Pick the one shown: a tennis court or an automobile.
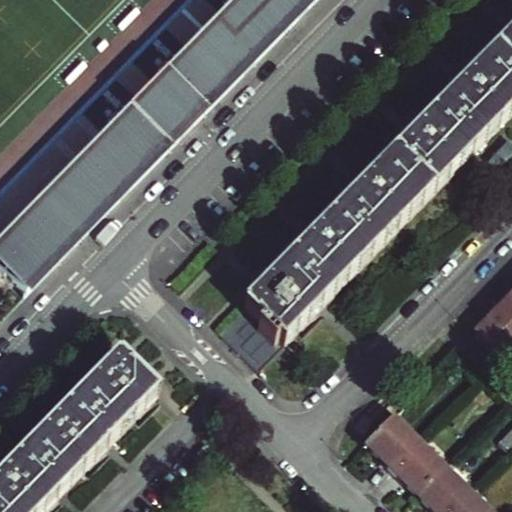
automobile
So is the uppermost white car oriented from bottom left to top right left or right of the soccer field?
on the right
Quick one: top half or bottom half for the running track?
top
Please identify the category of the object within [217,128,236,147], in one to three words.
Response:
car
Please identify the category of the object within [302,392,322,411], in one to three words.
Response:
car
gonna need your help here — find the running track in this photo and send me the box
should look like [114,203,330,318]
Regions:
[0,0,177,178]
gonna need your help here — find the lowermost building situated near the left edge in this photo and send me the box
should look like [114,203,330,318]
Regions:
[0,341,162,512]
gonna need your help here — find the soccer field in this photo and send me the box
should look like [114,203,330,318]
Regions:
[0,0,156,154]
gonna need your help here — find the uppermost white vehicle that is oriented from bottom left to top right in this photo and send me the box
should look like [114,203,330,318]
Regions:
[234,88,254,107]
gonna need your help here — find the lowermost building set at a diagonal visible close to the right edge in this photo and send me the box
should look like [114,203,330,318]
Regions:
[366,415,494,512]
